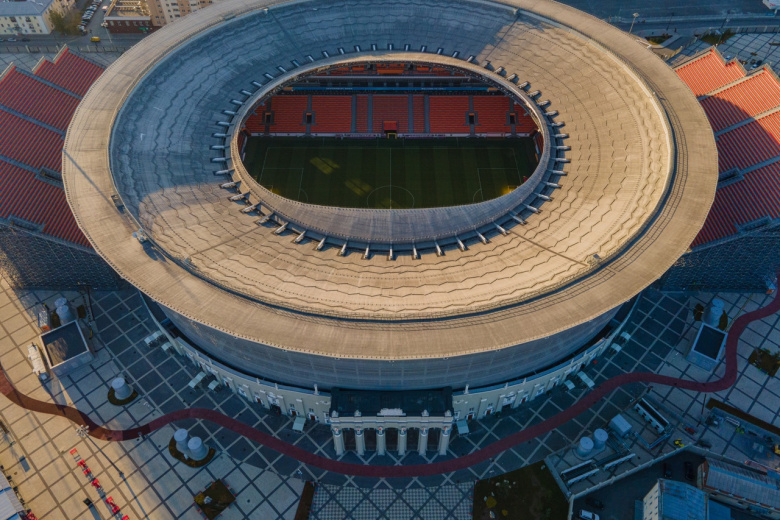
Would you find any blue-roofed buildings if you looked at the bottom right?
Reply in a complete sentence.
Yes, I can see a blue-roofed building at the bottom right.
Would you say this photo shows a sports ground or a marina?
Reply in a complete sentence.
What you see here is a sports ground.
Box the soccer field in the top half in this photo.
[245,142,535,252]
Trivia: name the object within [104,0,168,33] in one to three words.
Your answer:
building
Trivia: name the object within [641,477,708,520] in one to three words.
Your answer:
house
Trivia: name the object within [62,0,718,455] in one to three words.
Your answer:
stadium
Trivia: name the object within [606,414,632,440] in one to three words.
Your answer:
shed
